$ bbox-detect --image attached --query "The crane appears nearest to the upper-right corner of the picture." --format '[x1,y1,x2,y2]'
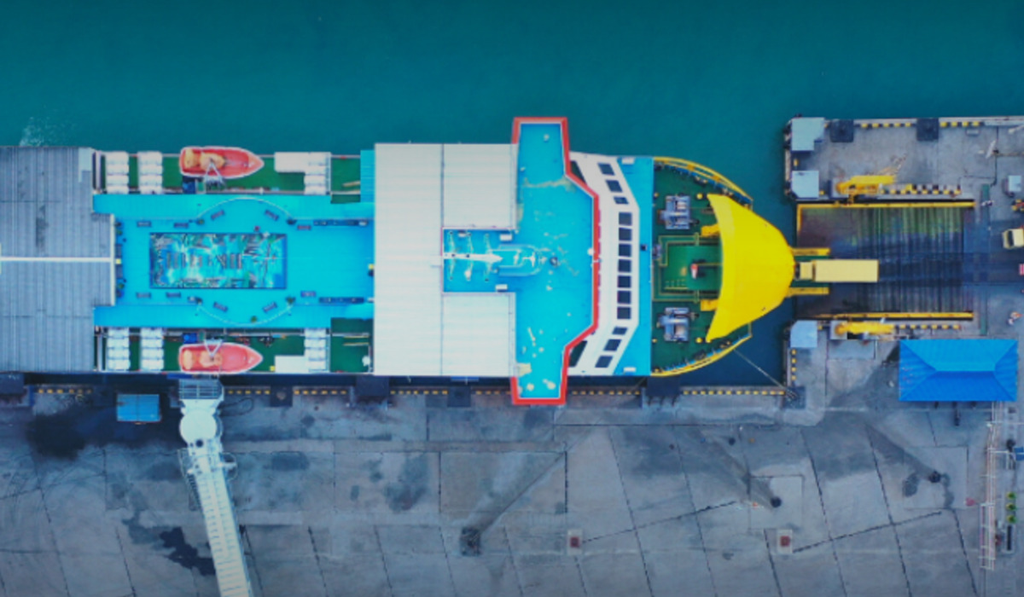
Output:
[827,175,895,204]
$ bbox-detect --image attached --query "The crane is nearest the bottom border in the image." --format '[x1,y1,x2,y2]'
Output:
[827,319,894,339]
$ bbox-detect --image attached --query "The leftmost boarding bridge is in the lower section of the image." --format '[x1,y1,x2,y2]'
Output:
[178,379,265,597]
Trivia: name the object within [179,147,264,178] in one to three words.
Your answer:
boat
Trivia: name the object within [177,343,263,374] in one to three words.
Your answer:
boat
